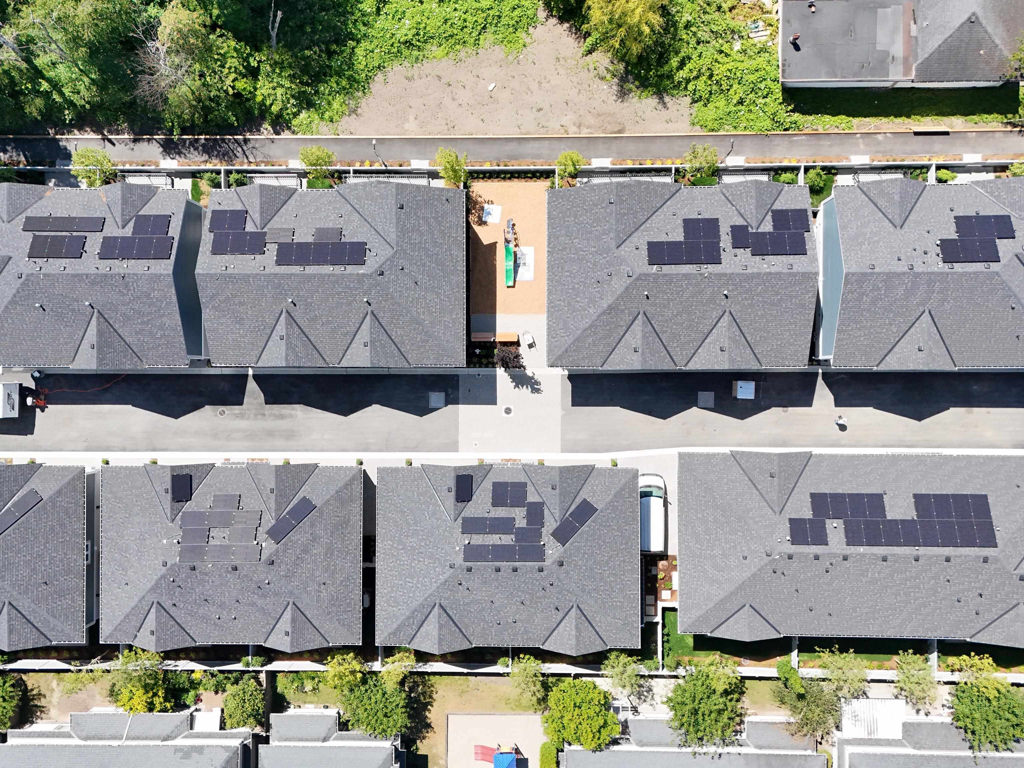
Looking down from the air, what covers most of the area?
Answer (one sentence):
For the most part, this view shows buildings.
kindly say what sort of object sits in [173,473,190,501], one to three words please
solar panel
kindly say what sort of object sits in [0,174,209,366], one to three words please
house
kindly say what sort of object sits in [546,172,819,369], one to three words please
house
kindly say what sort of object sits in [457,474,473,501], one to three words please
solar panel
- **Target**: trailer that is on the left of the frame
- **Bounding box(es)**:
[0,384,44,418]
